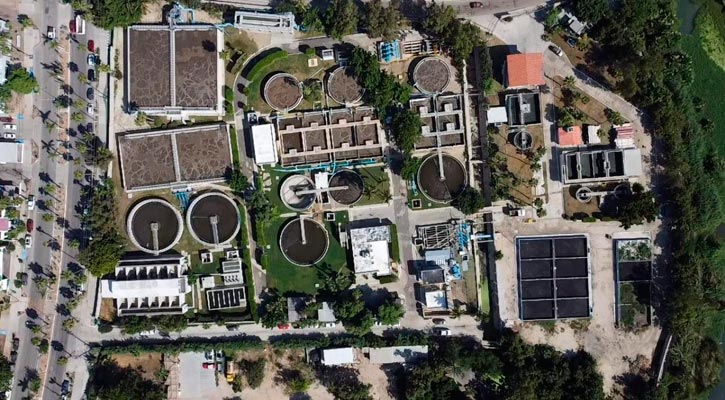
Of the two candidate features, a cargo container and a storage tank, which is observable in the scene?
storage tank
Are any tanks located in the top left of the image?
Yes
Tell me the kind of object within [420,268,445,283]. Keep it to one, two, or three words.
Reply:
building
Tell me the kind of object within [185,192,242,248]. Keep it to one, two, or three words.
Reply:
storage tank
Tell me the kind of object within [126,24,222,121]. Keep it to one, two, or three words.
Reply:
storage tank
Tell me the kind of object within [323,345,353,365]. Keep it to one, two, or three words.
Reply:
shed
